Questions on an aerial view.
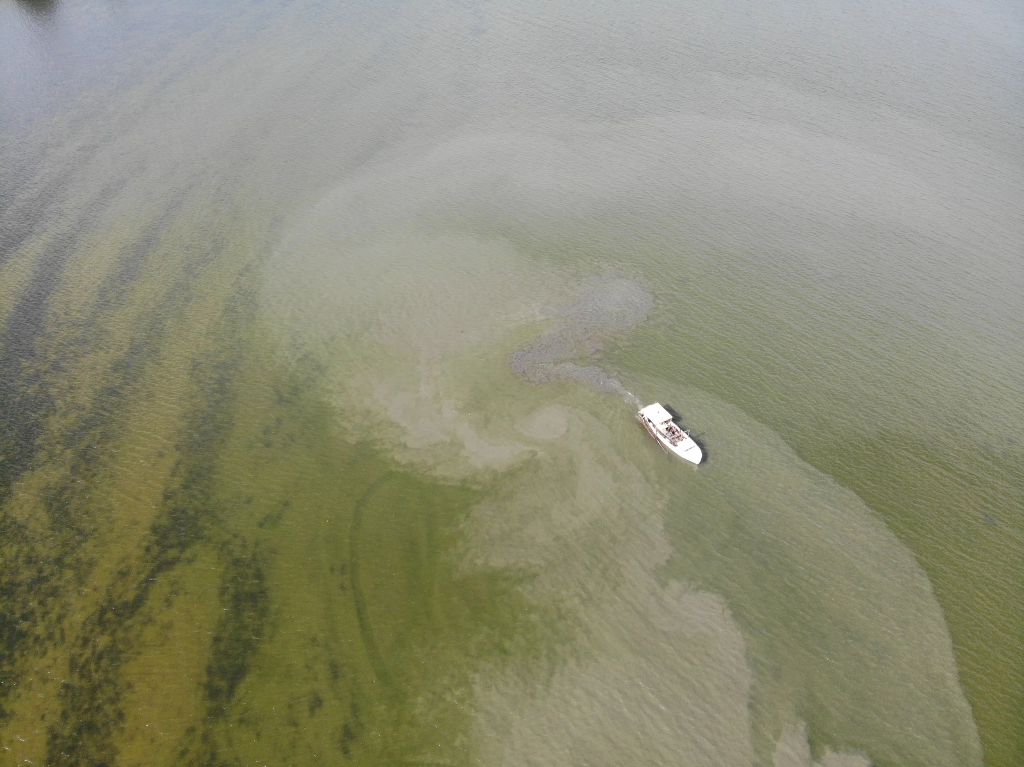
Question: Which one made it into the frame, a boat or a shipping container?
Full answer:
Looking from above, you can make out a boat.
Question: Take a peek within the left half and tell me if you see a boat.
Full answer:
No, within the left half there is no boat.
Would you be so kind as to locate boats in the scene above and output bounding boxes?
[638,403,700,466]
